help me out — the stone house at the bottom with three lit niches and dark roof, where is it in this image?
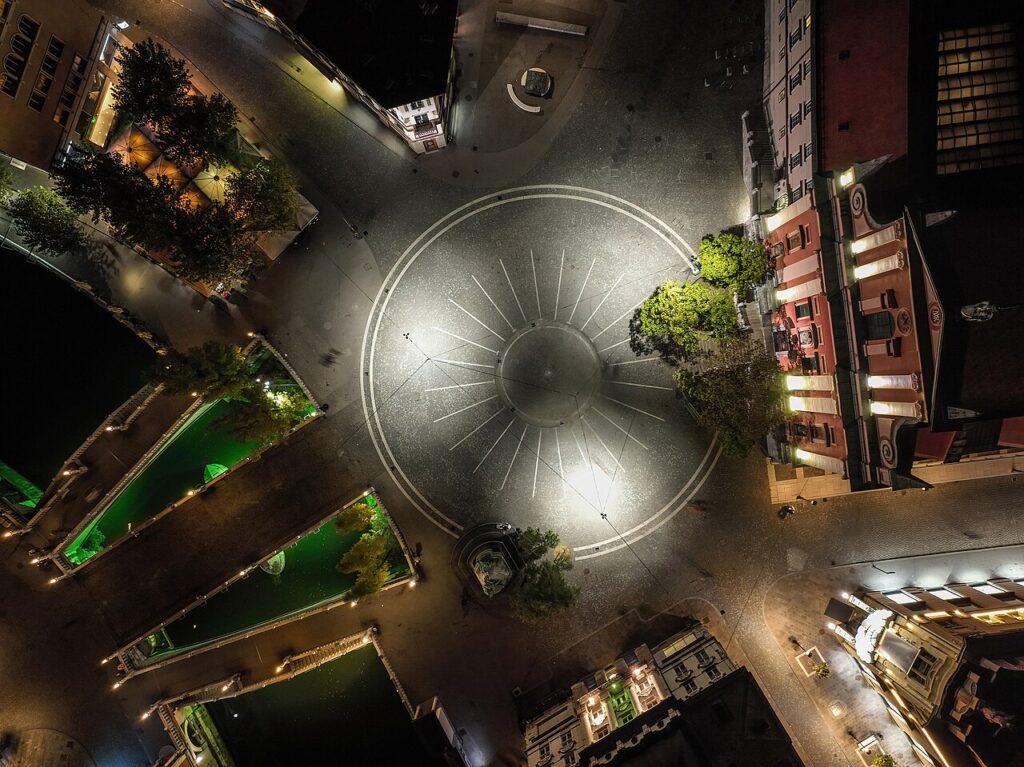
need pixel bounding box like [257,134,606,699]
[525,622,817,767]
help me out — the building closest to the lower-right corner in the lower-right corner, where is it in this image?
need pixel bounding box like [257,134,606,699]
[818,572,1024,767]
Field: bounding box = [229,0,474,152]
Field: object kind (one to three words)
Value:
house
